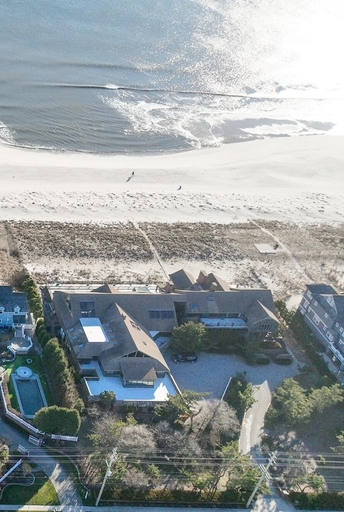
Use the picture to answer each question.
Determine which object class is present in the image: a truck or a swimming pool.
swimming pool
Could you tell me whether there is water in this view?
Yes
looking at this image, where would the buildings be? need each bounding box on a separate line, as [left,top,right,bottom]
[45,261,290,408]
[292,283,344,378]
[0,282,41,346]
